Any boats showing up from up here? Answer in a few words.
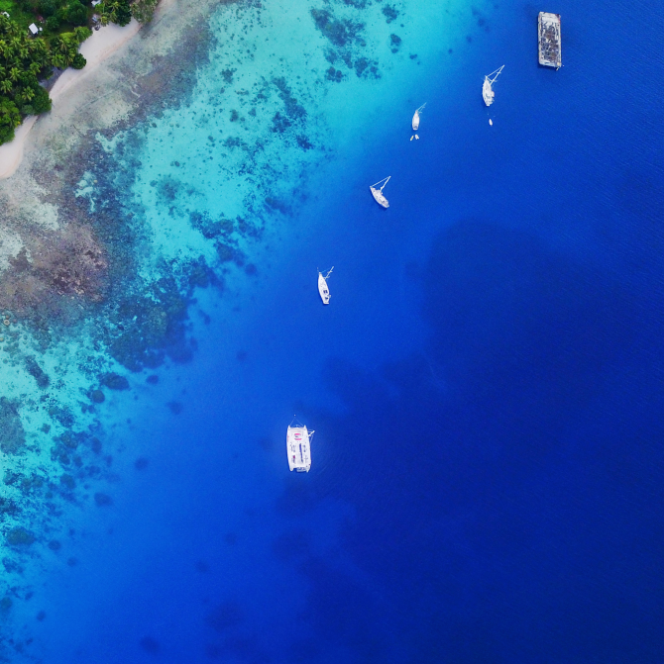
Yes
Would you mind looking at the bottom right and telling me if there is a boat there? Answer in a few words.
No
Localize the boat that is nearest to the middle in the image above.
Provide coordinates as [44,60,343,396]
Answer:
[318,268,332,306]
